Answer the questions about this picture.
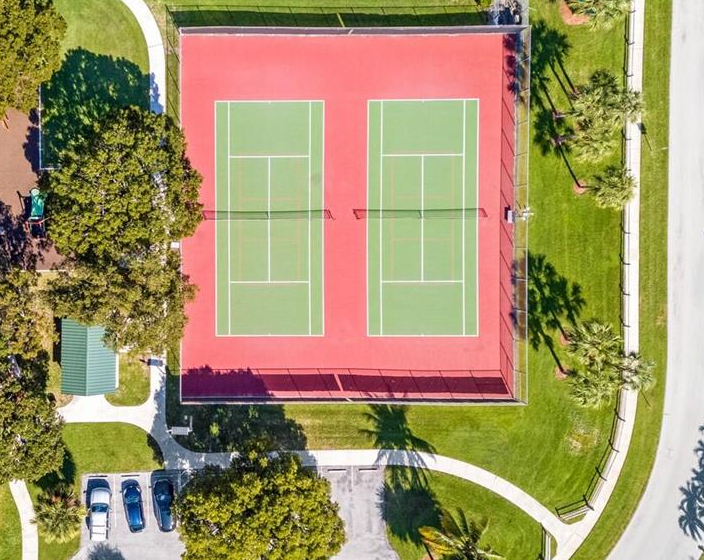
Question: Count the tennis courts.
2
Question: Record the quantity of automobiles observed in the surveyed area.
3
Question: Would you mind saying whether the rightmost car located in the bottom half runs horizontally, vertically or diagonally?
vertically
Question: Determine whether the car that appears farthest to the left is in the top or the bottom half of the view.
bottom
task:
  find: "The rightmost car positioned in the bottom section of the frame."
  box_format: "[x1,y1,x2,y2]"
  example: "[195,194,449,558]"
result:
[152,482,174,530]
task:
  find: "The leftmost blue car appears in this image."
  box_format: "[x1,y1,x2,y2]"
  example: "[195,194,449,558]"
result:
[121,483,144,532]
